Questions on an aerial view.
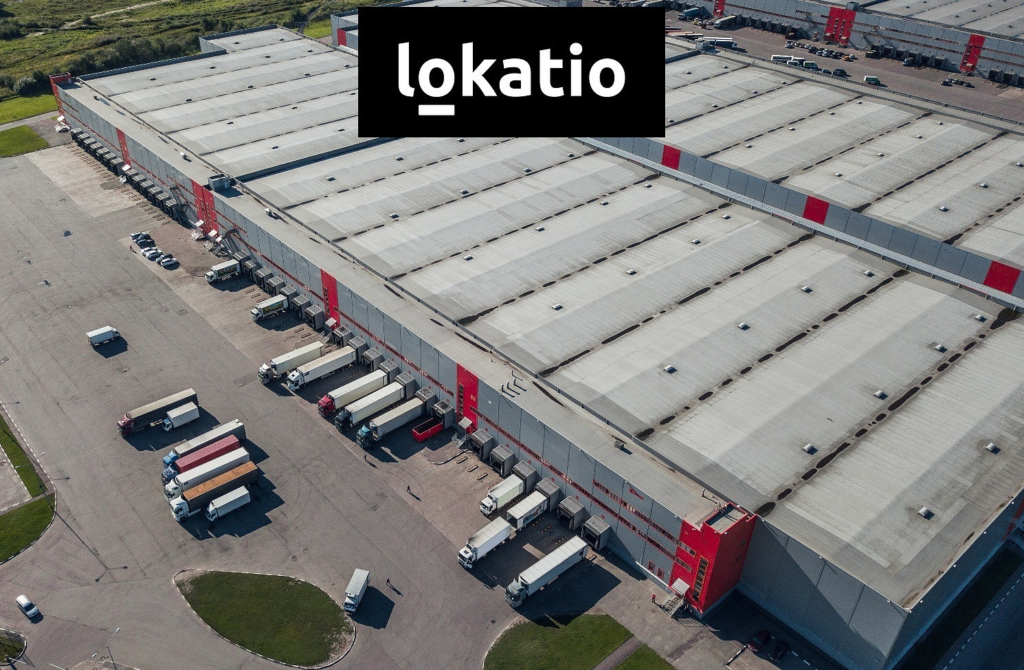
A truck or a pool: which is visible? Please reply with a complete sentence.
Visible in the photo is a truck.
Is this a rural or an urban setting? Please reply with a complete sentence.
The area is urban.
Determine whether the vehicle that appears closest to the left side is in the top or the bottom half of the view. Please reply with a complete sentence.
The bottom half of the photo is where the vehicle that appears closest to the left side is.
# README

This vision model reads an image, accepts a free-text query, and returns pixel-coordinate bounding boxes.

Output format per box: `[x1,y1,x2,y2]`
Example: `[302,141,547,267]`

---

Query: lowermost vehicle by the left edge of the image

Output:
[16,589,41,617]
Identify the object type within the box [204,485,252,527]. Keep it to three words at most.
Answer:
truck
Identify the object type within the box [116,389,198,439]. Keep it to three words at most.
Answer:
truck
